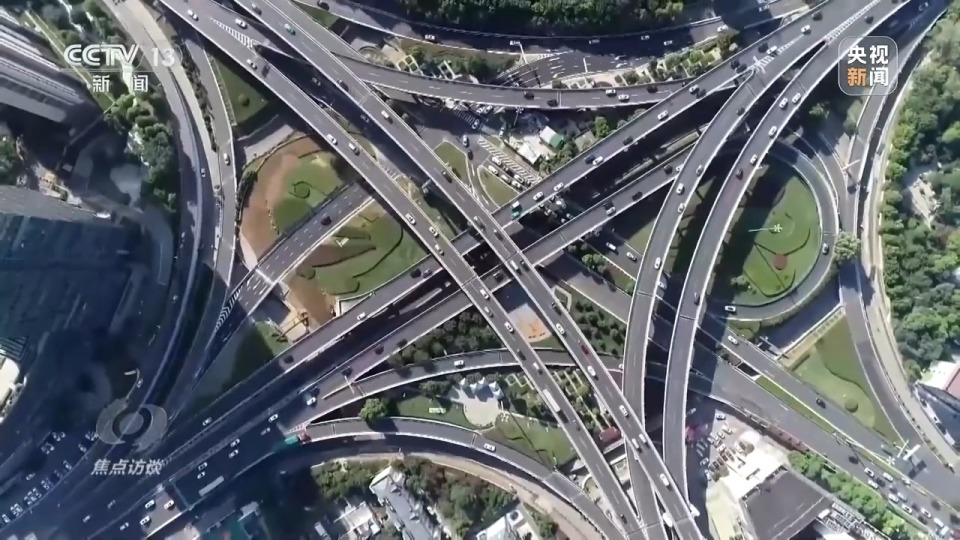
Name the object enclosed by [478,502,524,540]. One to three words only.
building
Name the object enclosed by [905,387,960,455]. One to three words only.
building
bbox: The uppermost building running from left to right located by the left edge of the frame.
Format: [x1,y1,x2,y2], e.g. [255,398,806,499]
[0,102,102,152]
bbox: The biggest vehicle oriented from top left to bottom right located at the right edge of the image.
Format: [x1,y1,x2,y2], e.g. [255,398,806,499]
[935,524,954,538]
